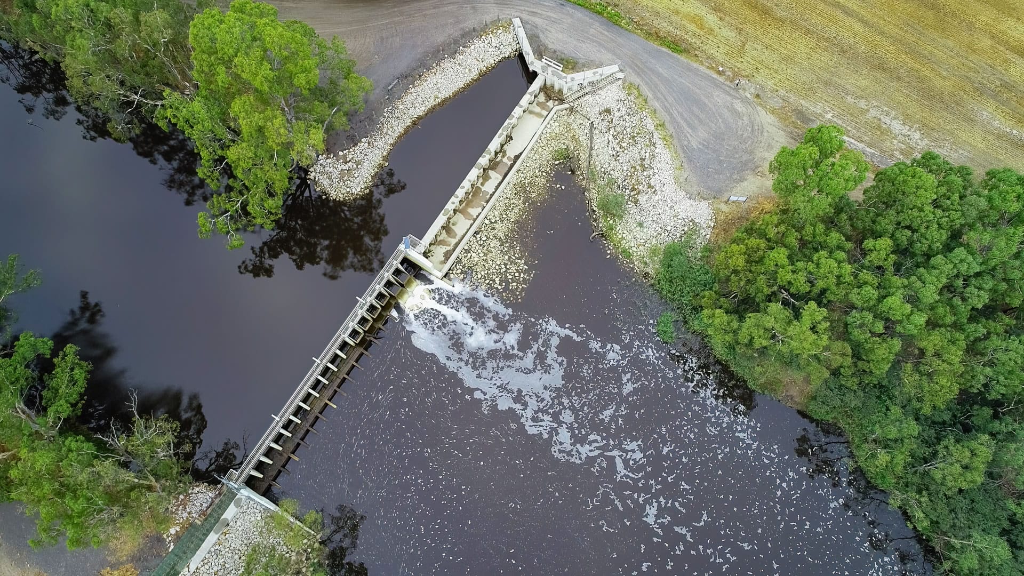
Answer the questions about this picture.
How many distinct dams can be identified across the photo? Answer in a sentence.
Altogether the scene contains 2 dams.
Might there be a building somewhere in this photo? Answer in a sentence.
No, this view has no building in it.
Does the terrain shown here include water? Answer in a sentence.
Yes, the picture does contain water.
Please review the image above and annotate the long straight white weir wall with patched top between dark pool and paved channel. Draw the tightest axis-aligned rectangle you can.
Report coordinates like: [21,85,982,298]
[421,78,573,274]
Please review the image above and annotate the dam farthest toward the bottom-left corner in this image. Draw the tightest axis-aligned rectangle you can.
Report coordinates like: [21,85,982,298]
[236,259,427,493]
